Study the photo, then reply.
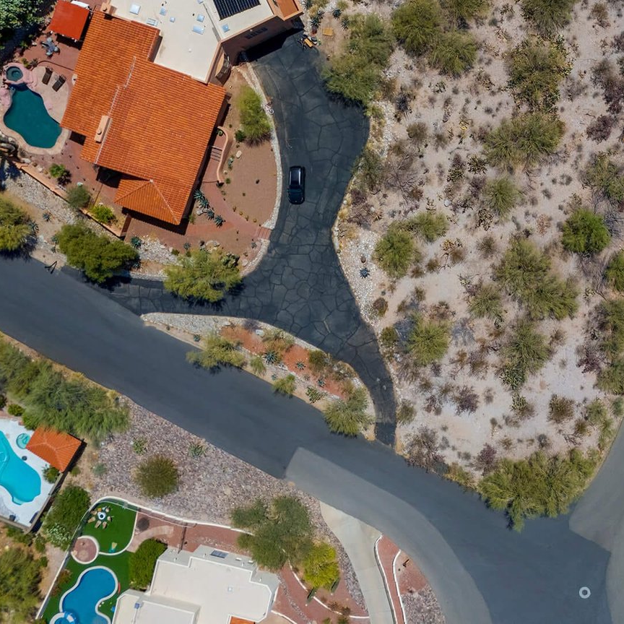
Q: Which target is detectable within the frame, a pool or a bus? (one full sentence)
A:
I can see a pool in this picture.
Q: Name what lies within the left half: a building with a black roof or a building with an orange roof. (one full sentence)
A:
The one visible within the left half is a building with an orange roof.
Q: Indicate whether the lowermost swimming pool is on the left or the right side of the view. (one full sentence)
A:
The lowermost swimming pool is on the left side of the image.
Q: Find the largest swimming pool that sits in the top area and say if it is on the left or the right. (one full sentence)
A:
It is on the left.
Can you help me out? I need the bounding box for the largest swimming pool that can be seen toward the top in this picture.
[2,81,63,149]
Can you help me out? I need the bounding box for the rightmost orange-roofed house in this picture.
[61,0,310,225]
